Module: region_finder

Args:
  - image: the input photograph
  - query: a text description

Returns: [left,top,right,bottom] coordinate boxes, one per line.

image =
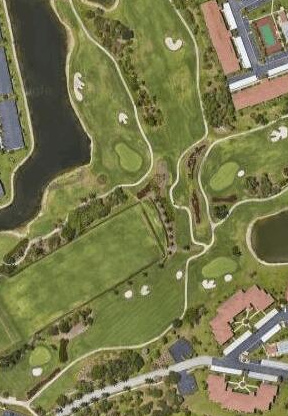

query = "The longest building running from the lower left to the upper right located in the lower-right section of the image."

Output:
[211,285,273,344]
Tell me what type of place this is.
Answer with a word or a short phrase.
golf course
